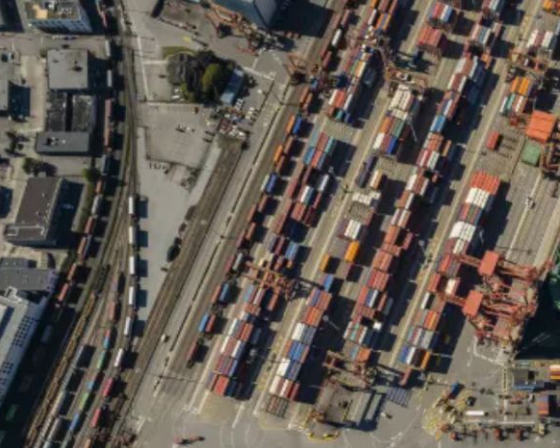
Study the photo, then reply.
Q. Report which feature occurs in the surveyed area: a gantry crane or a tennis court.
gantry crane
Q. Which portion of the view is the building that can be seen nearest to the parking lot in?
top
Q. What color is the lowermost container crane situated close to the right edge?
red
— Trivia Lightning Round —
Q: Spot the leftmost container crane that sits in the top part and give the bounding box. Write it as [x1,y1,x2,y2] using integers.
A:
[282,55,338,96]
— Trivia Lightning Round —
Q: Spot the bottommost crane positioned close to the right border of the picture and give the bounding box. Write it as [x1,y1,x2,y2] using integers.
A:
[424,281,536,347]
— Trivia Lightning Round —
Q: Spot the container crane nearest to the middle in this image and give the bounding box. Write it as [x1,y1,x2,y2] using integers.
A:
[244,259,302,297]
